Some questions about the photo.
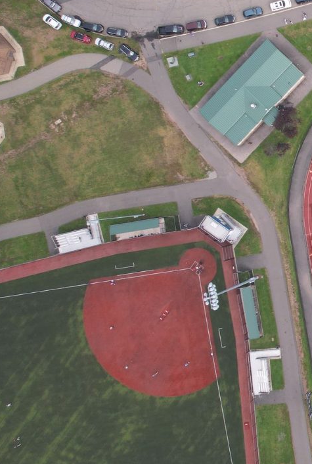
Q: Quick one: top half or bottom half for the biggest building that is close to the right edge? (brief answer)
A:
top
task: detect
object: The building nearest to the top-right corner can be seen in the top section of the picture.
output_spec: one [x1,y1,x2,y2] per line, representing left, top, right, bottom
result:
[198,39,305,146]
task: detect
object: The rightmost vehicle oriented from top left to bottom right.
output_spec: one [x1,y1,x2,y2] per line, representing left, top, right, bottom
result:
[118,43,140,62]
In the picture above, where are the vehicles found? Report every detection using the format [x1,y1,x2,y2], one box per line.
[70,29,92,44]
[42,13,64,31]
[118,43,140,62]
[60,12,82,29]
[42,0,65,14]
[243,7,264,19]
[270,0,291,11]
[106,26,129,38]
[186,20,208,31]
[94,37,116,51]
[158,24,185,35]
[215,14,236,26]
[82,21,105,34]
